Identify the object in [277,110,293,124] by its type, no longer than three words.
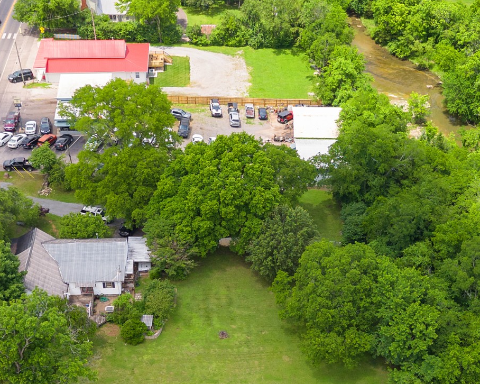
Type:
vehicle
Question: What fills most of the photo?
trees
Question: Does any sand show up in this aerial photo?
No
